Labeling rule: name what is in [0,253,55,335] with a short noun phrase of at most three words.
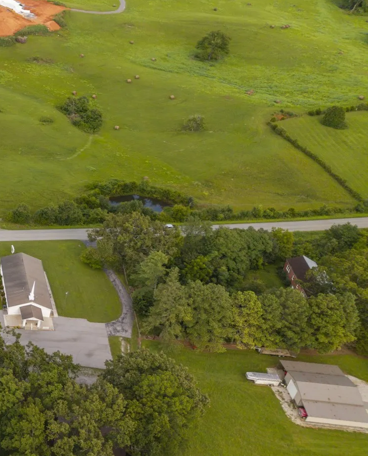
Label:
building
